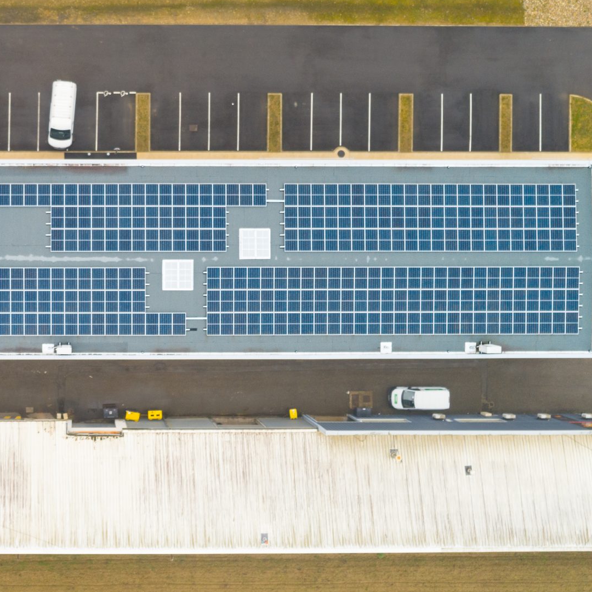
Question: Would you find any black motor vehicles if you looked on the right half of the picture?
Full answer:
No, I see no black motor vehicle on the right half of the picture.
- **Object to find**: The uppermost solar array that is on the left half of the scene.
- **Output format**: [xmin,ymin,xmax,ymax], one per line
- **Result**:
[0,184,271,251]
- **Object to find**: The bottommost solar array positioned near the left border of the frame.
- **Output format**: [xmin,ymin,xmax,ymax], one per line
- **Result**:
[0,267,190,335]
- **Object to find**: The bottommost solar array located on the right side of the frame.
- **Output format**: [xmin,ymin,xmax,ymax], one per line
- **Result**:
[203,267,583,335]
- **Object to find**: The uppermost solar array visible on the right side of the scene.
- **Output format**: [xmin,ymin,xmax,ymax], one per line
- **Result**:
[281,184,580,251]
